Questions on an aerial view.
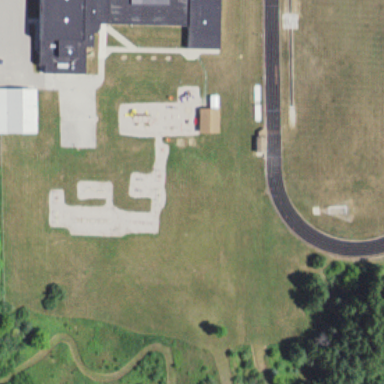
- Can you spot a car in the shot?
No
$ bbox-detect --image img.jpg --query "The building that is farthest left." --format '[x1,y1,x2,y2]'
[0,88,38,134]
